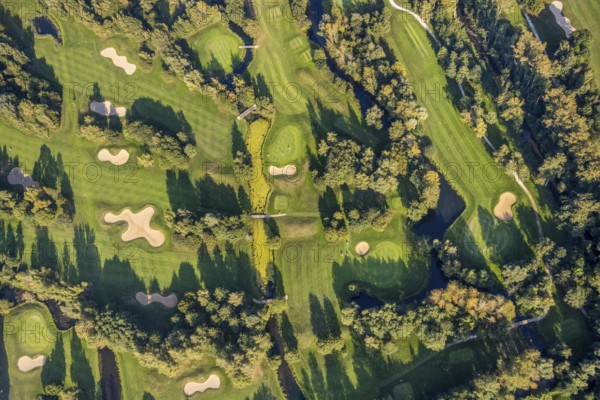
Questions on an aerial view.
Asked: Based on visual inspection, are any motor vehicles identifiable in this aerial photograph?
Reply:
No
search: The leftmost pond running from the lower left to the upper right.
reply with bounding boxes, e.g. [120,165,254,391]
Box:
[350,169,466,309]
